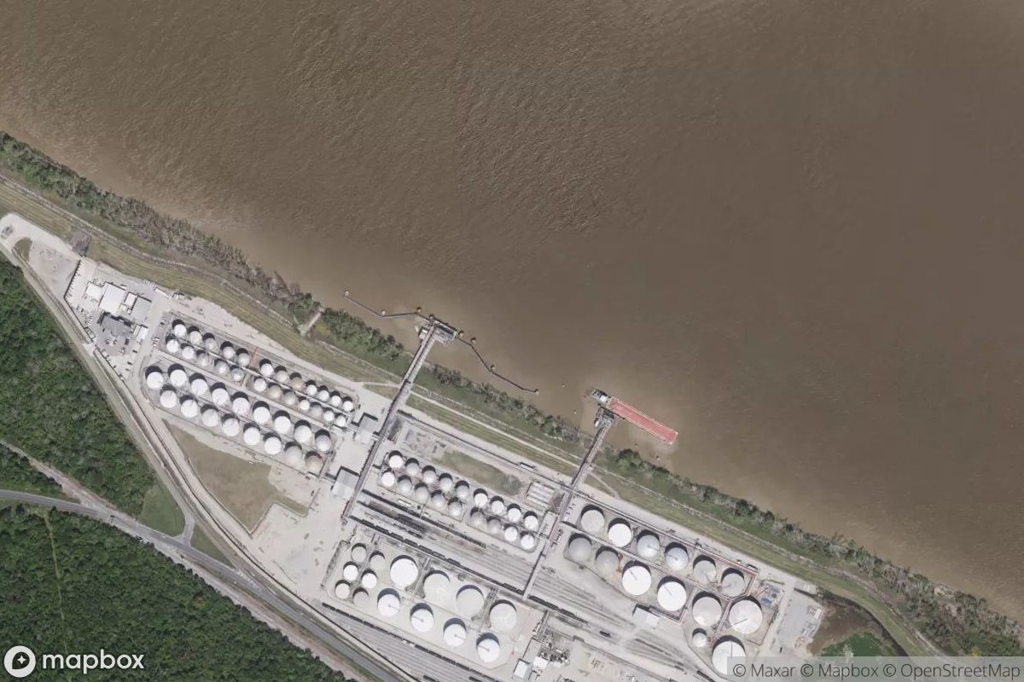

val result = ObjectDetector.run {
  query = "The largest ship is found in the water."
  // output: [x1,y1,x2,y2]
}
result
[606,397,677,444]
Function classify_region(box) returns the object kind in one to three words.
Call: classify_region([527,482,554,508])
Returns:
shed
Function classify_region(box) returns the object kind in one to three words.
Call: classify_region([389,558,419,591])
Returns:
storage tank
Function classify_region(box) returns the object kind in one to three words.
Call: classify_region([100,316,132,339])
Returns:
building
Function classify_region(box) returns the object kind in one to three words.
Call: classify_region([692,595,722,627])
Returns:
storage tank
